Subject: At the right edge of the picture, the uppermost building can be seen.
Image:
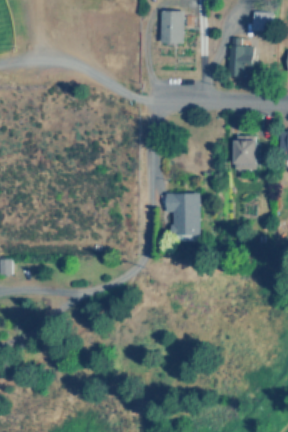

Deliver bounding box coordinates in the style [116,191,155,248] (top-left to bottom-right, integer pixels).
[254,11,276,34]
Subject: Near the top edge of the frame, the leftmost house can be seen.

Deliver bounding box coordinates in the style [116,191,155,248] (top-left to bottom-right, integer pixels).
[161,10,186,44]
